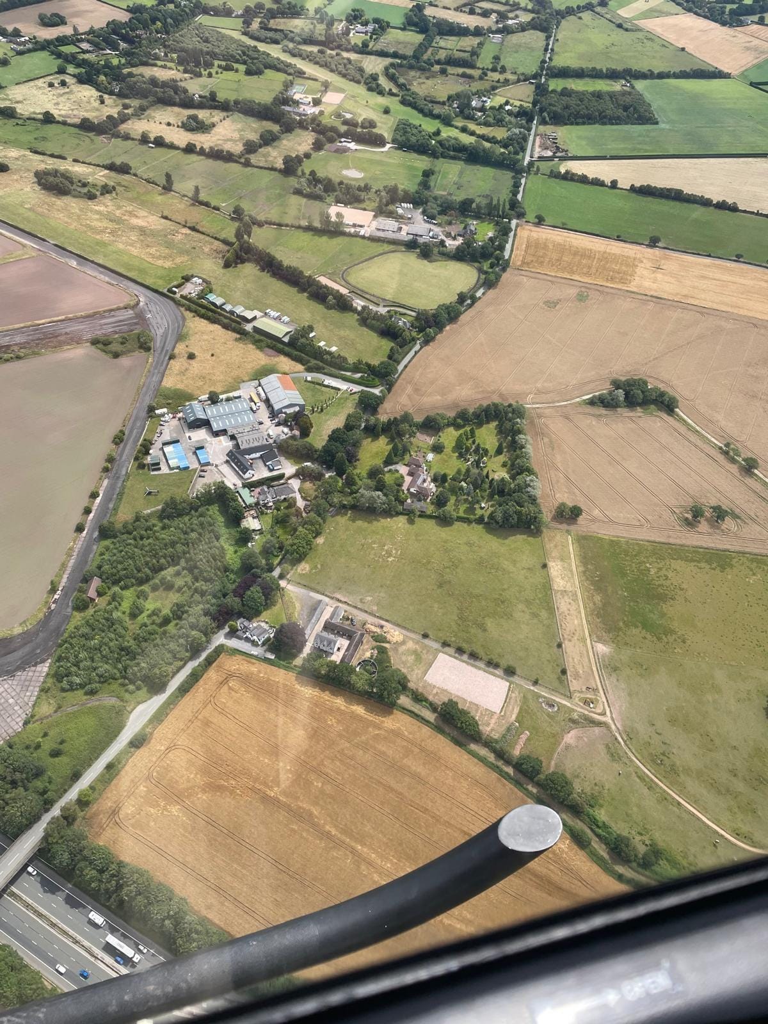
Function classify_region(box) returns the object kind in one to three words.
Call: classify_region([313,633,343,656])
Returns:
house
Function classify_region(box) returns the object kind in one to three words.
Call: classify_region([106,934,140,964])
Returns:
truck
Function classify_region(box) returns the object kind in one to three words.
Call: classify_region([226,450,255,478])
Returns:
barn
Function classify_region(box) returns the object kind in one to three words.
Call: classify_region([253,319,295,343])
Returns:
shed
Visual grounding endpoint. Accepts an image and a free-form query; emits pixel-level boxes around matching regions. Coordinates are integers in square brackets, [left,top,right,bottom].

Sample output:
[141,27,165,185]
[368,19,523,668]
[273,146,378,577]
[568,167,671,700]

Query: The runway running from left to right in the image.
[0,308,142,349]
